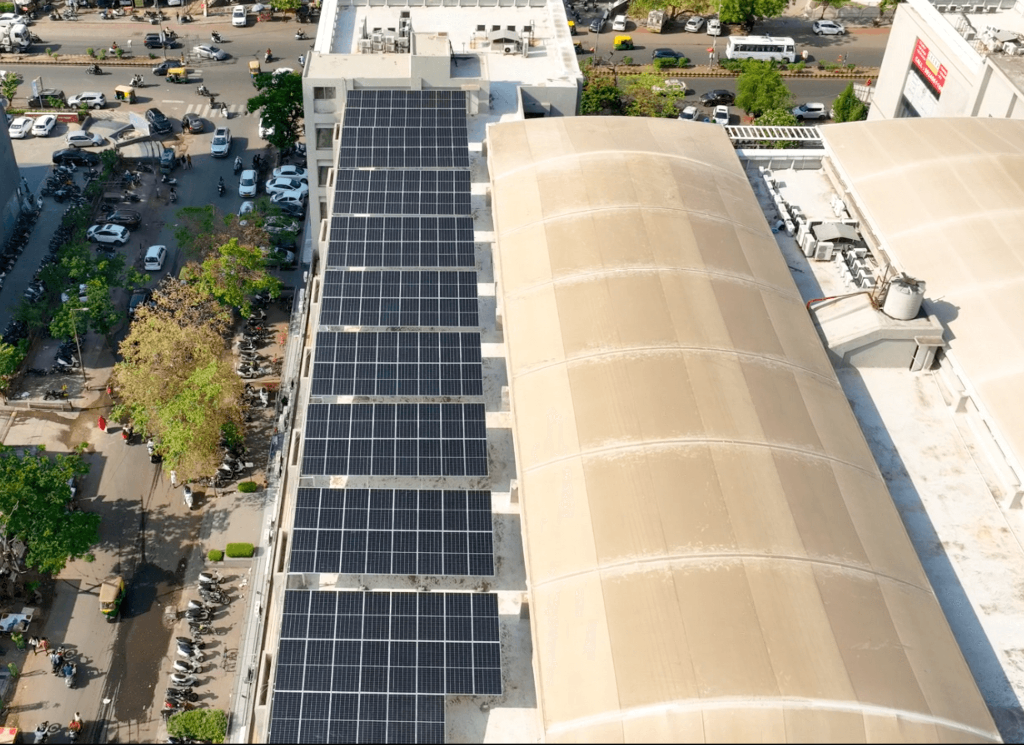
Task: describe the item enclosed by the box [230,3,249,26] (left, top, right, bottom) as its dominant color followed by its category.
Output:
white car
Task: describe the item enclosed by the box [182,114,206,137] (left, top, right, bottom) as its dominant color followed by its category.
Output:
gray car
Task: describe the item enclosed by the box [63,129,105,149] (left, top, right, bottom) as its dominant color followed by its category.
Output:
gray car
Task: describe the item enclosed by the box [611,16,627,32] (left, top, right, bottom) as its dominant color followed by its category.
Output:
white car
